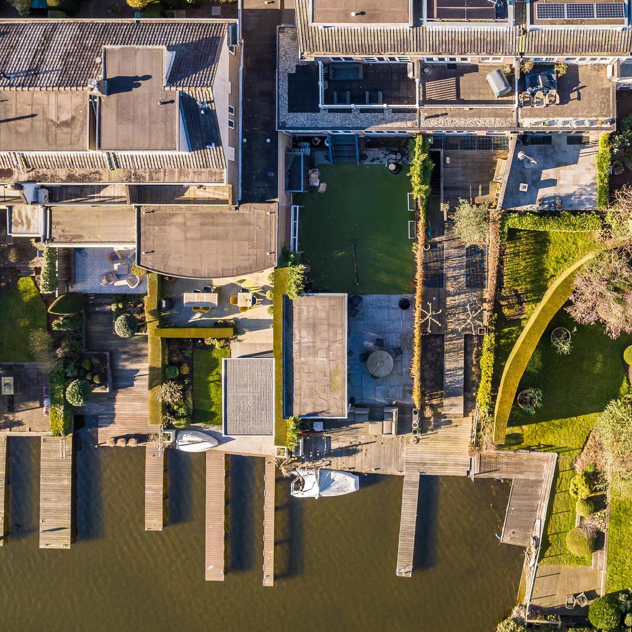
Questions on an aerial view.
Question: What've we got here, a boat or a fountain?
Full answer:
It is a boat that can be seen here.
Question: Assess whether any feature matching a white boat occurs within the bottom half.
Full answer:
Yes, I can see a white boat within the bottom half.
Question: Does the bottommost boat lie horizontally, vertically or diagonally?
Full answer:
Seen from above, the bottommost boat lies horizontally.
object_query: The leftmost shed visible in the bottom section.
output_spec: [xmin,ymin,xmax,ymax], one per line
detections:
[223,351,276,436]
